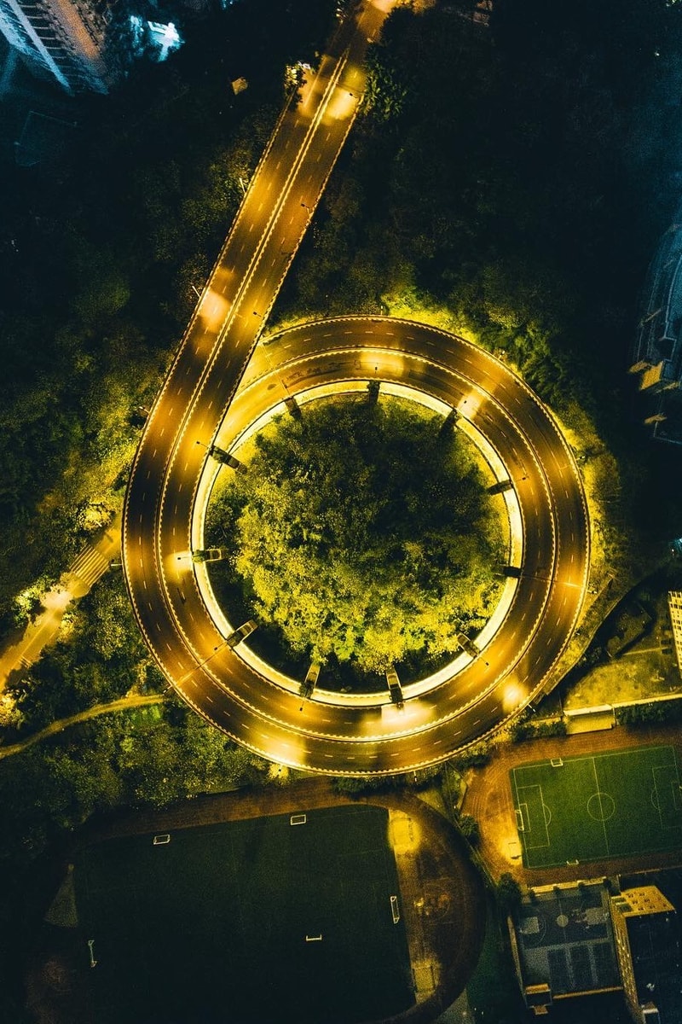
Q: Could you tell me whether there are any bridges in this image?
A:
Yes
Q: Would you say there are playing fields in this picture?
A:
Yes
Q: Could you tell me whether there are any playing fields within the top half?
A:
No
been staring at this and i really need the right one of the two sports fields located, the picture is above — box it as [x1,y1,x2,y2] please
[510,744,682,869]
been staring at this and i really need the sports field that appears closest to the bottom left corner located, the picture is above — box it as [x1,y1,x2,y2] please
[73,806,416,1024]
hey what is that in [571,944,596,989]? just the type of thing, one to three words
sports court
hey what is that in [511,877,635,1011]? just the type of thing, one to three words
building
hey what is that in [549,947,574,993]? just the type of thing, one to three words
sports court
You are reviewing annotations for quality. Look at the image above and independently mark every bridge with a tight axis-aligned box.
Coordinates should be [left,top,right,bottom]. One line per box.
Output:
[115,74,589,777]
